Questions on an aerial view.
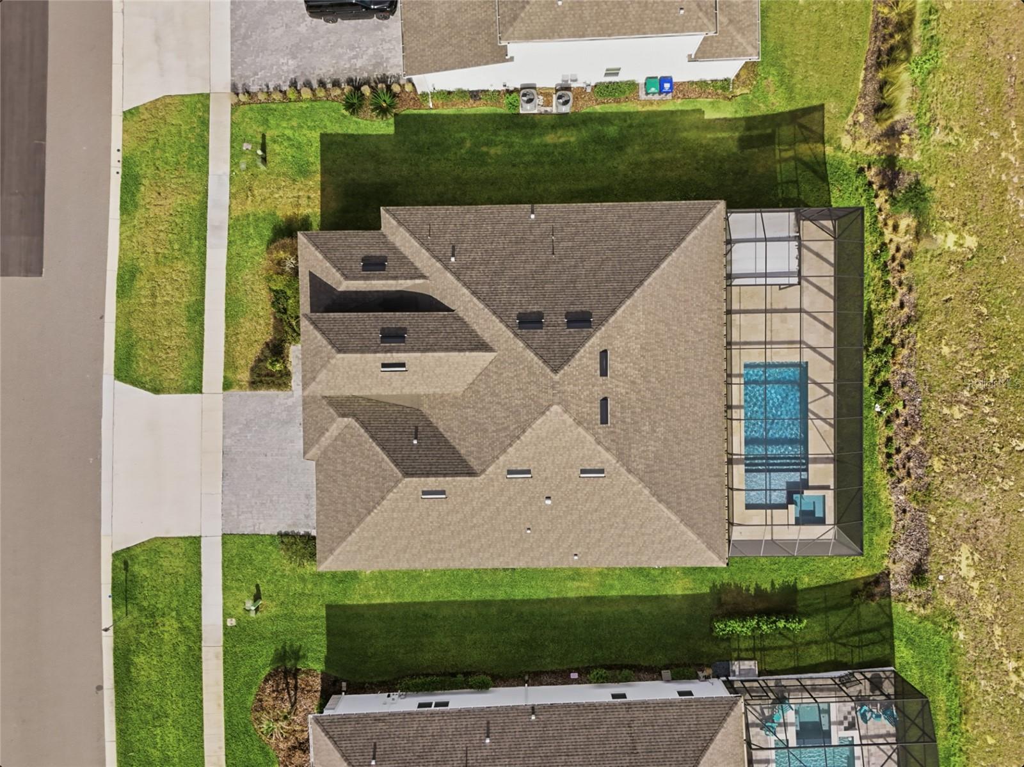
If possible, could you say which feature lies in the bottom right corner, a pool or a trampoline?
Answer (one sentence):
It is a pool that can be seen in the bottom right corner.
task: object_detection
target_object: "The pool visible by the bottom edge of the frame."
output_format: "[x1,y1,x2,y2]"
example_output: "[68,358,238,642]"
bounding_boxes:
[769,697,861,767]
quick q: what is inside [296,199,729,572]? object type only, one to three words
house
